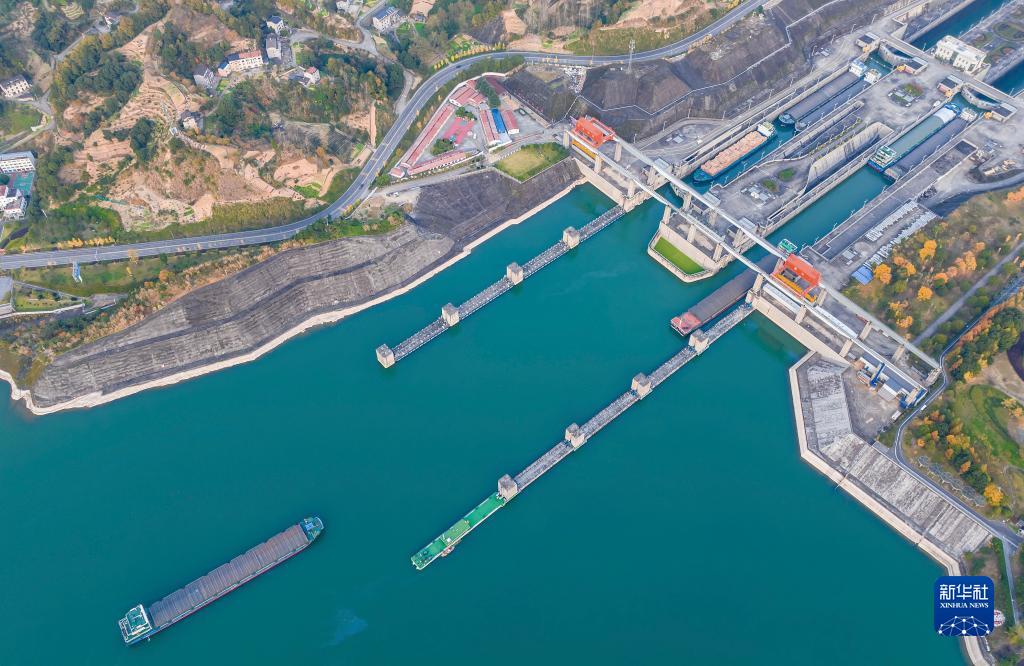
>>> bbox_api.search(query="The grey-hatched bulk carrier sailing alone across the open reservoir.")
[118,520,322,644]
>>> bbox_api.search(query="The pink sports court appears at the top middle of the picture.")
[444,118,475,144]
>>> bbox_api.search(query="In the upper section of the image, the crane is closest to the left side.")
[566,110,618,159]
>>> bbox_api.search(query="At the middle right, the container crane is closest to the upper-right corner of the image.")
[764,249,824,299]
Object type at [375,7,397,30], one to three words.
house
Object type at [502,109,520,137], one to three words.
building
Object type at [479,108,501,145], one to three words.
building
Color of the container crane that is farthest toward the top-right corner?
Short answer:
red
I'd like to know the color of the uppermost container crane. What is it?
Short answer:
red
